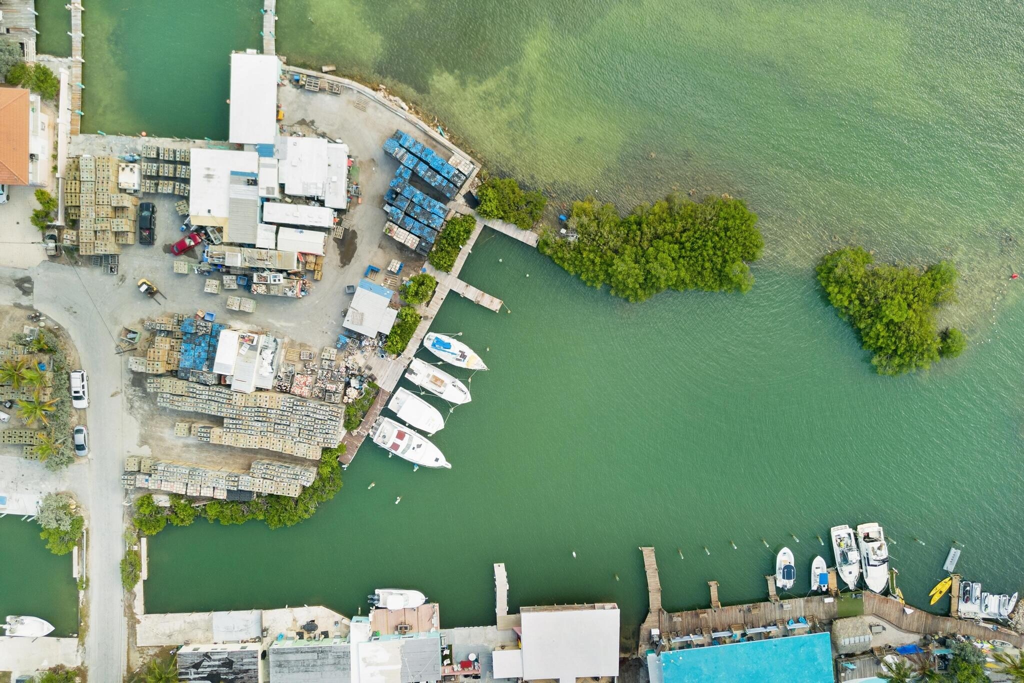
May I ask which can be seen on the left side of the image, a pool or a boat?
boat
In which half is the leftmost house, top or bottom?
top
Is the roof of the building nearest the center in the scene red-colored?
No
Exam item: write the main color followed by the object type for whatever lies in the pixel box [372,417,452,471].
white boat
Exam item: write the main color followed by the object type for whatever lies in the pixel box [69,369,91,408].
white car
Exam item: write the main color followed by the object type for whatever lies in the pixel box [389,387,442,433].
white boat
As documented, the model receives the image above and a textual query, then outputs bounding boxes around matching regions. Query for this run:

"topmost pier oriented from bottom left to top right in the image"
[365,224,484,394]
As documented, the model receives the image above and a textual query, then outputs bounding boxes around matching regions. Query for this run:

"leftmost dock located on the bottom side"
[341,389,390,465]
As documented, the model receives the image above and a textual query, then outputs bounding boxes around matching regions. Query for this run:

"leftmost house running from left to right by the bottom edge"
[177,642,266,683]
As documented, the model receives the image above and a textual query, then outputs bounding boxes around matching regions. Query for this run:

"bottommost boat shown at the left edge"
[1,615,60,636]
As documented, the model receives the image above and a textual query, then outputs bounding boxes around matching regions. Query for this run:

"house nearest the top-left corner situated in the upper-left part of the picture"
[0,86,44,187]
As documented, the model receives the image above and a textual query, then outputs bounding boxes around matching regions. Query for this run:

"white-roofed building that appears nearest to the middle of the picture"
[343,279,399,338]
